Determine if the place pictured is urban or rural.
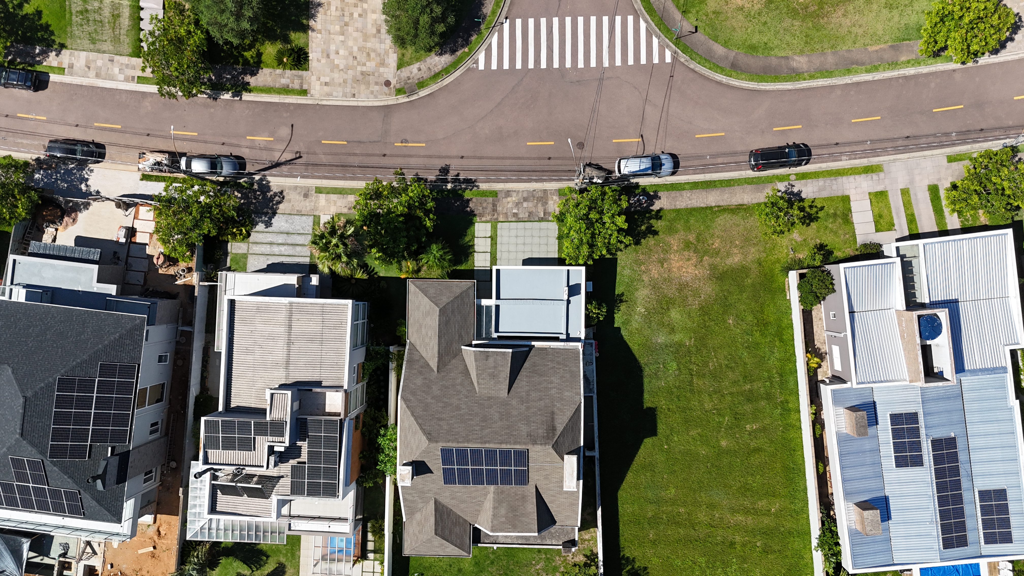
urban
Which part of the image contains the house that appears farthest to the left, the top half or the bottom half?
bottom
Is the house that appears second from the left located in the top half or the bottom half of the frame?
bottom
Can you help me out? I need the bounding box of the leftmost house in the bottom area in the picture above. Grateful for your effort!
[0,254,183,544]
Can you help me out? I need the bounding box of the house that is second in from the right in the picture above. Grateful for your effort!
[397,267,596,558]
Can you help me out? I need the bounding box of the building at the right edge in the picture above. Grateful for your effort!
[811,228,1024,574]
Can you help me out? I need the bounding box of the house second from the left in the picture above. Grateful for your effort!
[186,273,372,544]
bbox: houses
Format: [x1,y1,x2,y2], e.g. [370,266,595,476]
[186,273,372,544]
[811,228,1024,574]
[397,267,596,558]
[0,254,183,544]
